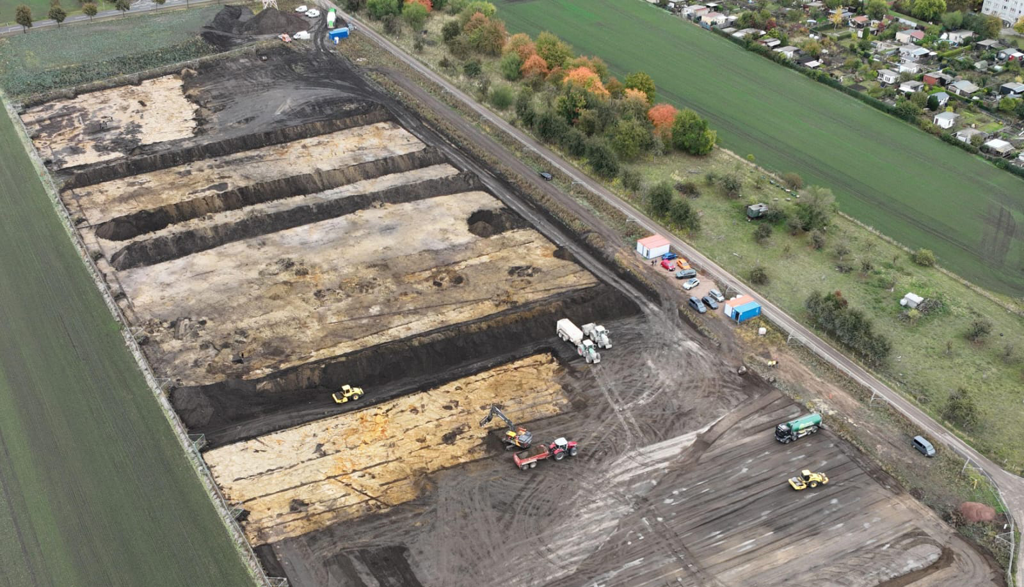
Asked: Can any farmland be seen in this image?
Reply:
Yes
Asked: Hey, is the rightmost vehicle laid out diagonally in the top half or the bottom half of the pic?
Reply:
bottom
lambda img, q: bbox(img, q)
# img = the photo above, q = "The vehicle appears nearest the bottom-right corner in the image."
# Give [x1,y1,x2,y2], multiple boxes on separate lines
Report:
[909,434,936,456]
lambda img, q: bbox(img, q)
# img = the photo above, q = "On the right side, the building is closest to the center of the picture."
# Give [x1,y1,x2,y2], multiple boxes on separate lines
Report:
[637,234,669,259]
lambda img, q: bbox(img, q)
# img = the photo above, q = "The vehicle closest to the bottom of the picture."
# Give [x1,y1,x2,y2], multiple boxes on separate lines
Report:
[790,470,826,490]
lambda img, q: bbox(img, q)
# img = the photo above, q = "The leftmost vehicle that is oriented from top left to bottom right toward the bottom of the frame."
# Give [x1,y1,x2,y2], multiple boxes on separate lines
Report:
[477,407,531,451]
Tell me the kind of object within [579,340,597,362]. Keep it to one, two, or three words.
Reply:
work vehicle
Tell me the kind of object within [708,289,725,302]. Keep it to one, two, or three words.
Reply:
vehicle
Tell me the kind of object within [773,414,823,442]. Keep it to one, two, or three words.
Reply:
truck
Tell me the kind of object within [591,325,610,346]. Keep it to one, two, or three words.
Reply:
work vehicle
